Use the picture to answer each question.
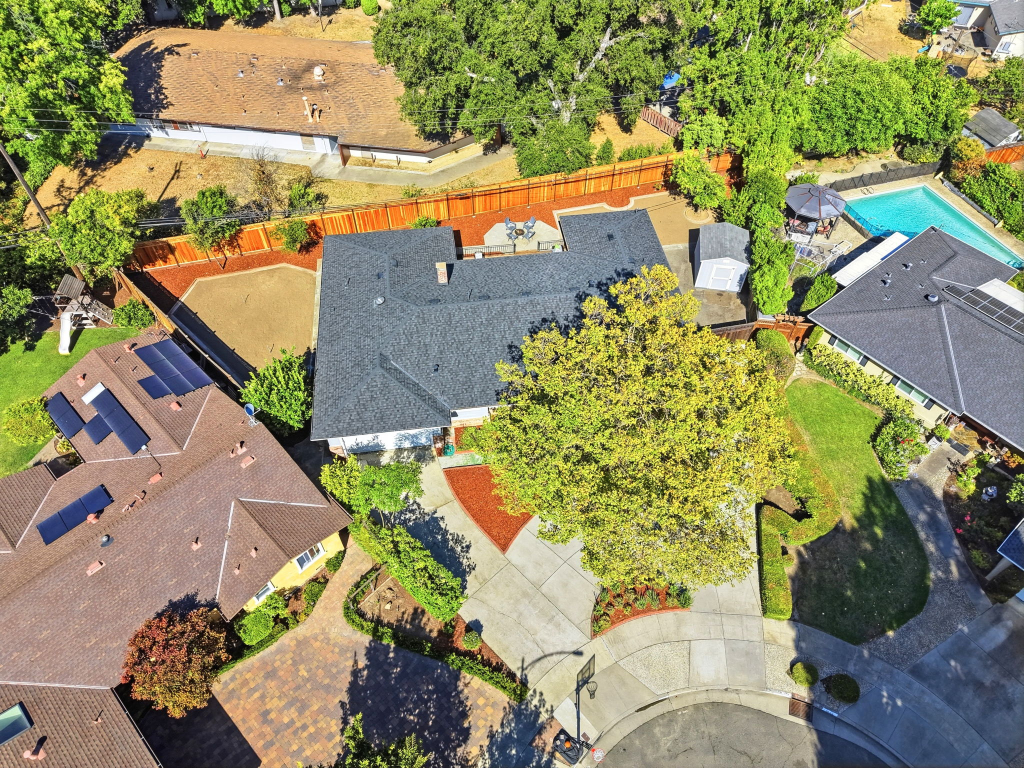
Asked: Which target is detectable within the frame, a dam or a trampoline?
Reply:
trampoline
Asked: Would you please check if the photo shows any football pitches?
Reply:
No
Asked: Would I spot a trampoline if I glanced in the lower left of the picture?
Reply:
No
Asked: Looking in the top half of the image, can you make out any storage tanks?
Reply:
No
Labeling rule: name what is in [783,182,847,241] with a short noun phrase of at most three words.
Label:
gazebo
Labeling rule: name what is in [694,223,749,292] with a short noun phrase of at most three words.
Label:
shed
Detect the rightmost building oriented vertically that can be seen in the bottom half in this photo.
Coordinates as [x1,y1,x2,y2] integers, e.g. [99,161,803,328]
[989,514,1024,600]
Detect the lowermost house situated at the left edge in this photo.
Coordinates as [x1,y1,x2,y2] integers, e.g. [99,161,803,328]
[0,332,357,768]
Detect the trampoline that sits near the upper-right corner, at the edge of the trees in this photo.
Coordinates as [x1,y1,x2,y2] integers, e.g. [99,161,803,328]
[938,36,990,79]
